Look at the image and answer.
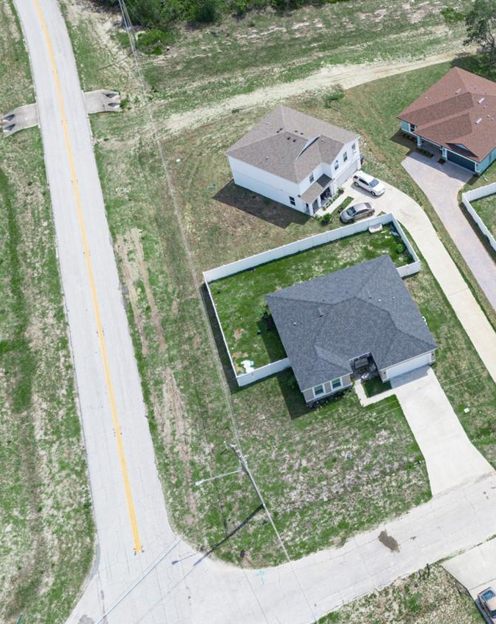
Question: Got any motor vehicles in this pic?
Yes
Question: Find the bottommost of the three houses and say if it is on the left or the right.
right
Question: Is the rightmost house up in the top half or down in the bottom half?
top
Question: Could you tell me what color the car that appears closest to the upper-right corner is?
white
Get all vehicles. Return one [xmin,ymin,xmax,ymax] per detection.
[351,169,386,195]
[338,201,377,221]
[472,582,496,624]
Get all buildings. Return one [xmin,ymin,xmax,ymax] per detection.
[225,107,361,218]
[397,68,496,176]
[267,255,438,401]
